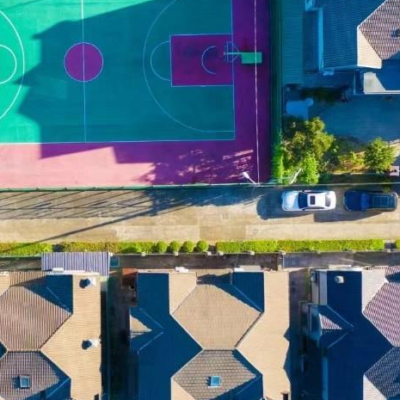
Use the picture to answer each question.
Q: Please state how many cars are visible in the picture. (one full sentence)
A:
Altogether the scene contains 2 cars.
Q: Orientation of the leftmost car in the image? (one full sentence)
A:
The leftmost car has been laid out from left to right relative to the frame.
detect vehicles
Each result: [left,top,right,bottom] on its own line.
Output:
[341,187,397,213]
[278,188,335,213]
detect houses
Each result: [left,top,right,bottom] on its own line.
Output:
[0,270,109,400]
[127,268,296,400]
[301,0,400,94]
[298,267,400,400]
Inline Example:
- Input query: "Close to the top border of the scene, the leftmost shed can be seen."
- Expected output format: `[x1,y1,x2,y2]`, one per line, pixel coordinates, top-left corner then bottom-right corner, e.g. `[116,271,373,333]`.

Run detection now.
[276,0,310,86]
